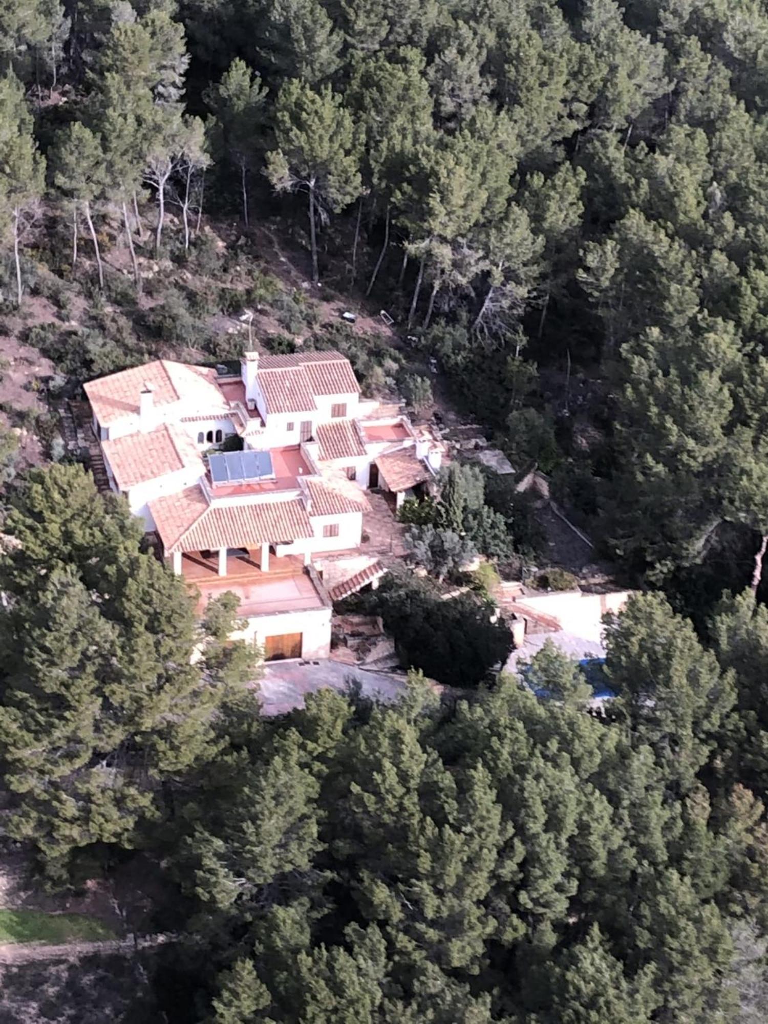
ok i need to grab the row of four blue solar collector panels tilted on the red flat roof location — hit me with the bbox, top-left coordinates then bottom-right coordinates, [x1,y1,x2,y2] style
[209,450,279,487]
